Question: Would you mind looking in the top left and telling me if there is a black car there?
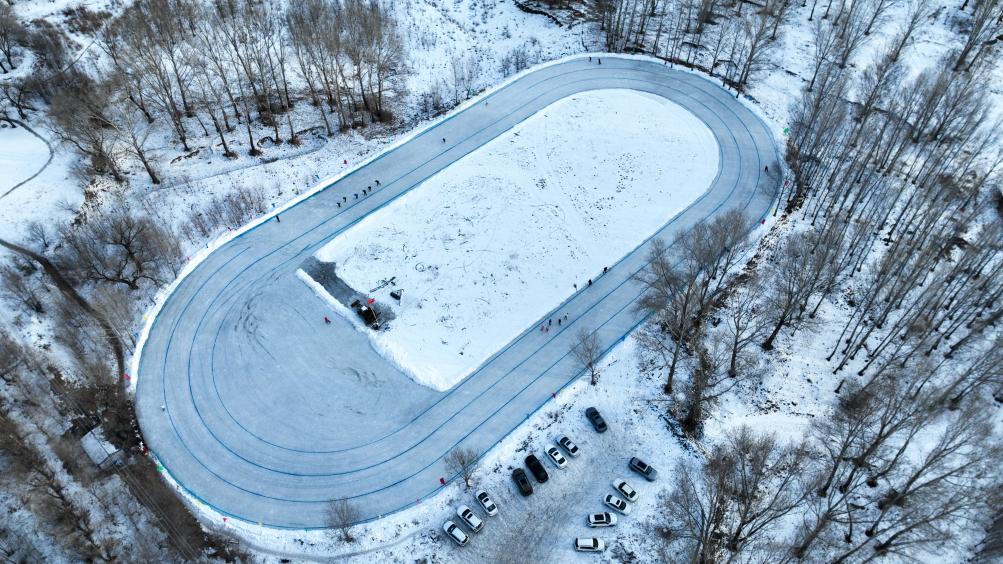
No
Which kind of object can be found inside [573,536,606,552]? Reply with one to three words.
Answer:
car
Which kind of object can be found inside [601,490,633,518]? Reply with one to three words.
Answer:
car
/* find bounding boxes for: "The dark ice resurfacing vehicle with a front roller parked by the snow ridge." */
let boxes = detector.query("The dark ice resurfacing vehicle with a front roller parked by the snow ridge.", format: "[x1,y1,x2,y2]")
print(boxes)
[351,300,379,329]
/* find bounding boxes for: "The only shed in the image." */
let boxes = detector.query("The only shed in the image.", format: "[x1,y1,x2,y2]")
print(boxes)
[84,428,124,469]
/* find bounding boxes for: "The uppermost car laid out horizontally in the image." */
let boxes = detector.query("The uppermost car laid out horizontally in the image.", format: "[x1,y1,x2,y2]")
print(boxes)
[586,511,619,528]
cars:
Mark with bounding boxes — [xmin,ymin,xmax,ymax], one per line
[601,490,633,518]
[544,443,570,471]
[441,520,471,548]
[585,406,609,434]
[511,467,535,497]
[455,504,485,534]
[573,536,606,552]
[611,477,642,504]
[586,511,619,528]
[629,454,658,483]
[474,489,501,519]
[525,454,550,484]
[555,433,582,459]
